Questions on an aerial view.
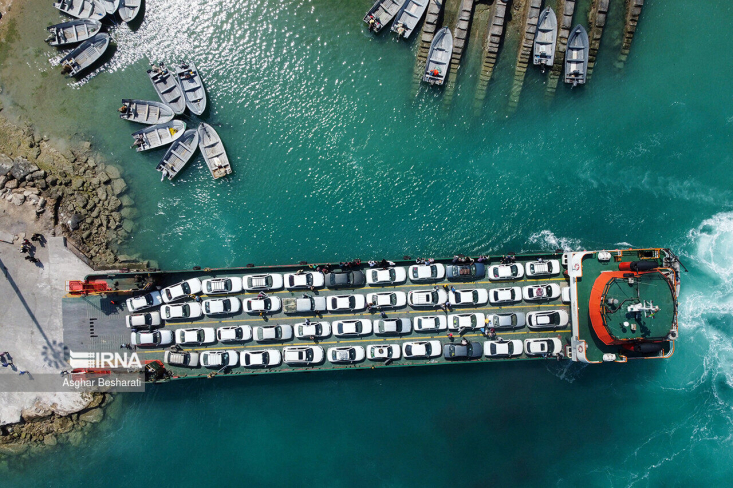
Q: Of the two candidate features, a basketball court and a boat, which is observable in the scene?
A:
boat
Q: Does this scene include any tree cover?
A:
No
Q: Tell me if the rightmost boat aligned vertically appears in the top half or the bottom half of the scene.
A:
top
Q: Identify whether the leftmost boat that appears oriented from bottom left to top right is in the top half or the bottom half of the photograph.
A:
top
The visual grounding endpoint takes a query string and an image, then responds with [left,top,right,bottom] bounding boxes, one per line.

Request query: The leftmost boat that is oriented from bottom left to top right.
[58,34,112,77]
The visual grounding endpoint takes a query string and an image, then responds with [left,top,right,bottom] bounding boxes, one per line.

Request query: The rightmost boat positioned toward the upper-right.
[564,25,587,87]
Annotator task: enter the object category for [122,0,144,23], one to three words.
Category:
boat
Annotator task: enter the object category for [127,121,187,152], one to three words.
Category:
boat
